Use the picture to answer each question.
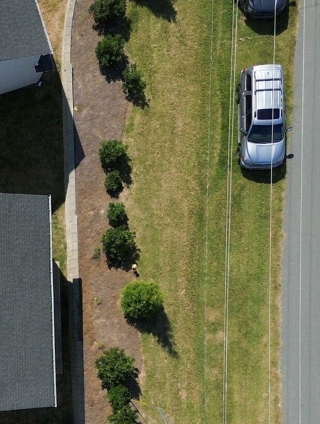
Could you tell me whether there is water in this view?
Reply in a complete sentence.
No, there is no water in the image.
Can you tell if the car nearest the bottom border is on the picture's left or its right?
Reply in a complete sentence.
The car nearest the bottom border sits on the right side.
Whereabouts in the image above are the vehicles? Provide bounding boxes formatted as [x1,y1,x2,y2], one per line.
[233,63,289,172]
[238,0,287,22]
